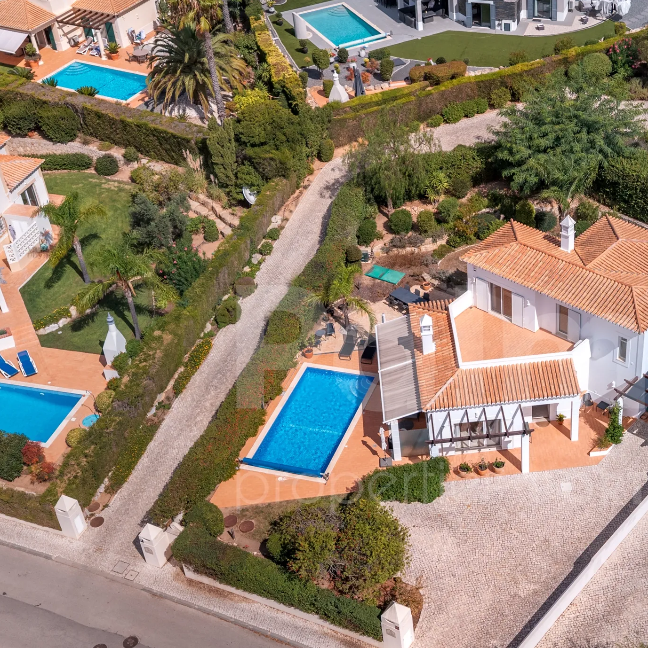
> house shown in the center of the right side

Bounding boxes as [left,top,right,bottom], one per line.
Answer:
[375,206,648,474]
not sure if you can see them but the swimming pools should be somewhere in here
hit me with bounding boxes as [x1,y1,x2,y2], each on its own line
[306,1,392,52]
[0,379,91,447]
[241,362,379,483]
[36,59,159,102]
